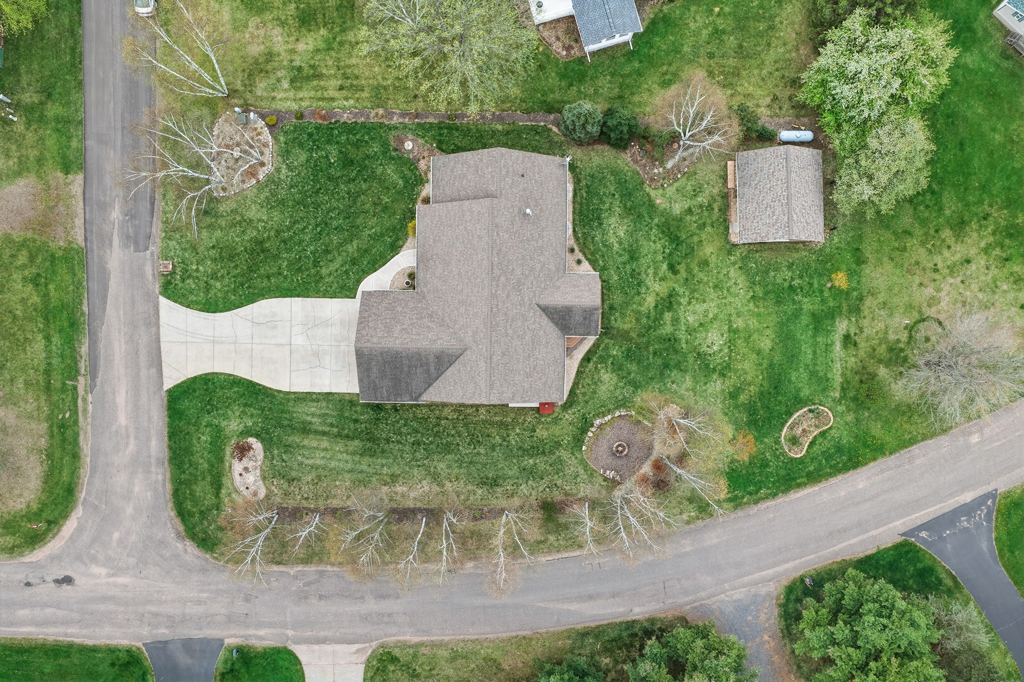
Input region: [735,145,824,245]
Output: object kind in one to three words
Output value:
shed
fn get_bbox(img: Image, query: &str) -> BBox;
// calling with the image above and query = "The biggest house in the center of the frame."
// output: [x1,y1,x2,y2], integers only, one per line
[354,148,602,404]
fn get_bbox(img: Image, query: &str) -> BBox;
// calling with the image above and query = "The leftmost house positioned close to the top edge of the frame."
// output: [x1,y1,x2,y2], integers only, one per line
[570,0,644,73]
